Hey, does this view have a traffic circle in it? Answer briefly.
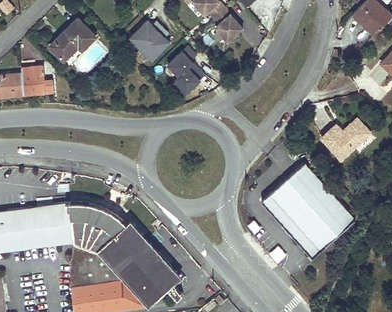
Yes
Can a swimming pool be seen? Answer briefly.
Yes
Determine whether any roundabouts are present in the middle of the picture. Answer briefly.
Yes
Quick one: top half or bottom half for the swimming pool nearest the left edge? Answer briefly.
top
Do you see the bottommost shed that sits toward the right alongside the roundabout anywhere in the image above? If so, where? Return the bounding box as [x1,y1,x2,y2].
[264,166,354,256]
